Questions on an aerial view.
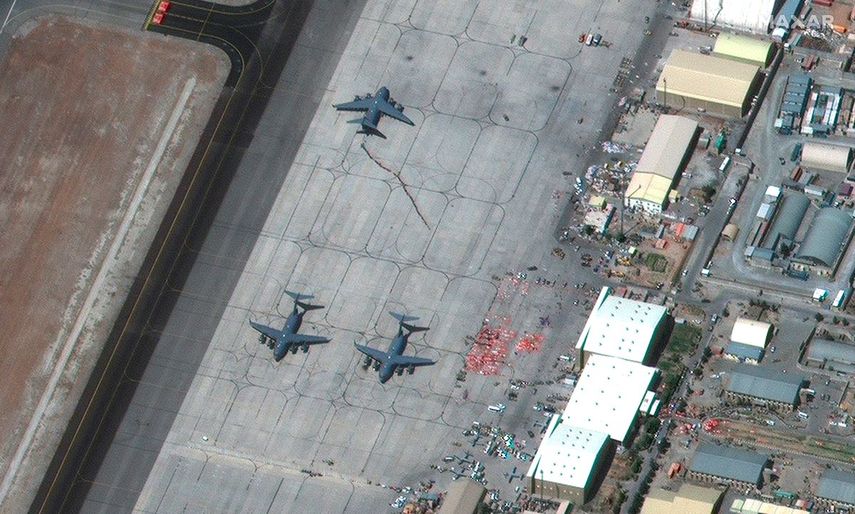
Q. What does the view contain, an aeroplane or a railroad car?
aeroplane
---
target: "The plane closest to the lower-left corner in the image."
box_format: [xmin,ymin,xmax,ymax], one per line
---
[247,285,326,363]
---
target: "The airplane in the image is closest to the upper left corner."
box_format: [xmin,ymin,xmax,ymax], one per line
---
[333,80,412,132]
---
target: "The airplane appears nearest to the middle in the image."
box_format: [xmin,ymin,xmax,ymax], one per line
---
[352,305,433,384]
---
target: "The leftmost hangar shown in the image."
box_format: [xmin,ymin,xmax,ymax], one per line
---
[432,477,490,514]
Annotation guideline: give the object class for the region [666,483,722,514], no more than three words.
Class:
building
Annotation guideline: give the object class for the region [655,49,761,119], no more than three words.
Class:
hangar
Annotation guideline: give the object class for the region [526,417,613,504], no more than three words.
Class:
hangar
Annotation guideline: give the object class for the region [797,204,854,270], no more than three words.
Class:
building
